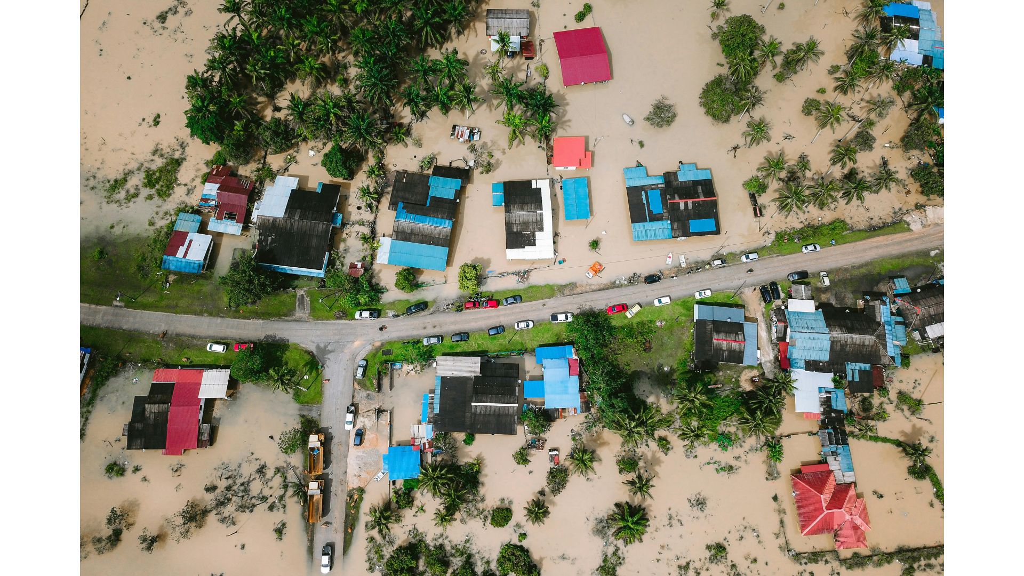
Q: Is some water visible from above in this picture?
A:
Yes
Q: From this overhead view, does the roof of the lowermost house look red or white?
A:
red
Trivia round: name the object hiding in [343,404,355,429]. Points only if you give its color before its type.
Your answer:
white vehicle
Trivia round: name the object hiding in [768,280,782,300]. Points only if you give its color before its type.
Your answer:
black car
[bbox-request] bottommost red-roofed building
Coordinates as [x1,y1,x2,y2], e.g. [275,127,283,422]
[786,463,871,550]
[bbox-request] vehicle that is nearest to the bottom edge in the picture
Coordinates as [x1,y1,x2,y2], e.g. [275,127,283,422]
[320,543,333,572]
